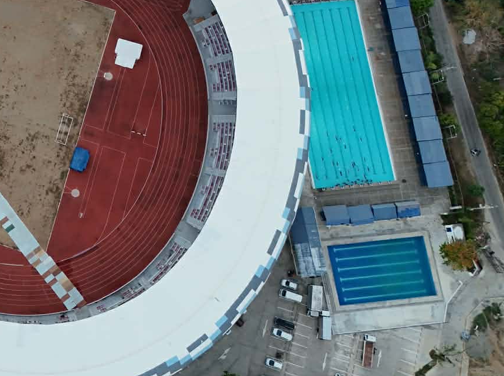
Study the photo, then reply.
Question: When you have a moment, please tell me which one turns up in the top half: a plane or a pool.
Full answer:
The one visible in the top half is a pool.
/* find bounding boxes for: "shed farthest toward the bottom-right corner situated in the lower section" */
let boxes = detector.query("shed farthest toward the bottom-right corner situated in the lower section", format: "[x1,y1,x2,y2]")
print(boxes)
[438,225,466,241]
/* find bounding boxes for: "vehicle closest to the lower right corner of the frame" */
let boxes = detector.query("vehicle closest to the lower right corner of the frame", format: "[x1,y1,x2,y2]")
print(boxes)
[361,334,379,369]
